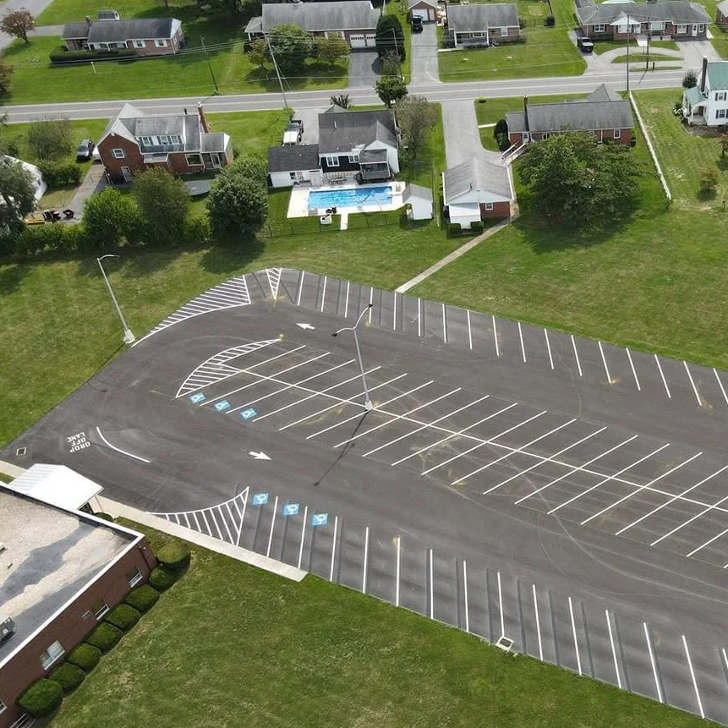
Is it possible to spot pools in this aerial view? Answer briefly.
Yes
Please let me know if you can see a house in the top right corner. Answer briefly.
Yes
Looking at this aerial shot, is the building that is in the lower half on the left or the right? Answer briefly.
left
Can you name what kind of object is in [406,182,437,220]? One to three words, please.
shed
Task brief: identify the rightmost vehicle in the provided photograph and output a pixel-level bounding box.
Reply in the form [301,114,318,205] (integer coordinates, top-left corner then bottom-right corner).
[578,34,594,50]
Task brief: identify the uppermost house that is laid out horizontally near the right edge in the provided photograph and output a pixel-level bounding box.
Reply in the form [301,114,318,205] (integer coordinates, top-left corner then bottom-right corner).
[580,0,710,40]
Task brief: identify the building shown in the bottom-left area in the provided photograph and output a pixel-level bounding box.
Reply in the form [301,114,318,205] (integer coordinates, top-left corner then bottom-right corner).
[0,476,156,718]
